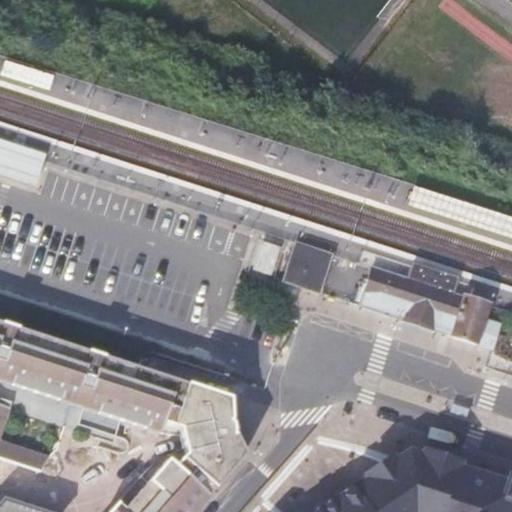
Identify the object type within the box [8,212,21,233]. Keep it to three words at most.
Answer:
vehicle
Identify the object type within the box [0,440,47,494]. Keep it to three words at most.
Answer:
house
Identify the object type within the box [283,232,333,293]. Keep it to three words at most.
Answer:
building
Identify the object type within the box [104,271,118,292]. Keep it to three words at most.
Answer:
vehicle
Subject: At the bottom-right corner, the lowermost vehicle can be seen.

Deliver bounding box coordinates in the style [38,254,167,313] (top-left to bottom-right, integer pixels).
[426,426,457,444]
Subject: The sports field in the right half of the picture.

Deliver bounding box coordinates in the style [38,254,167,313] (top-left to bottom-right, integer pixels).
[248,0,410,66]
